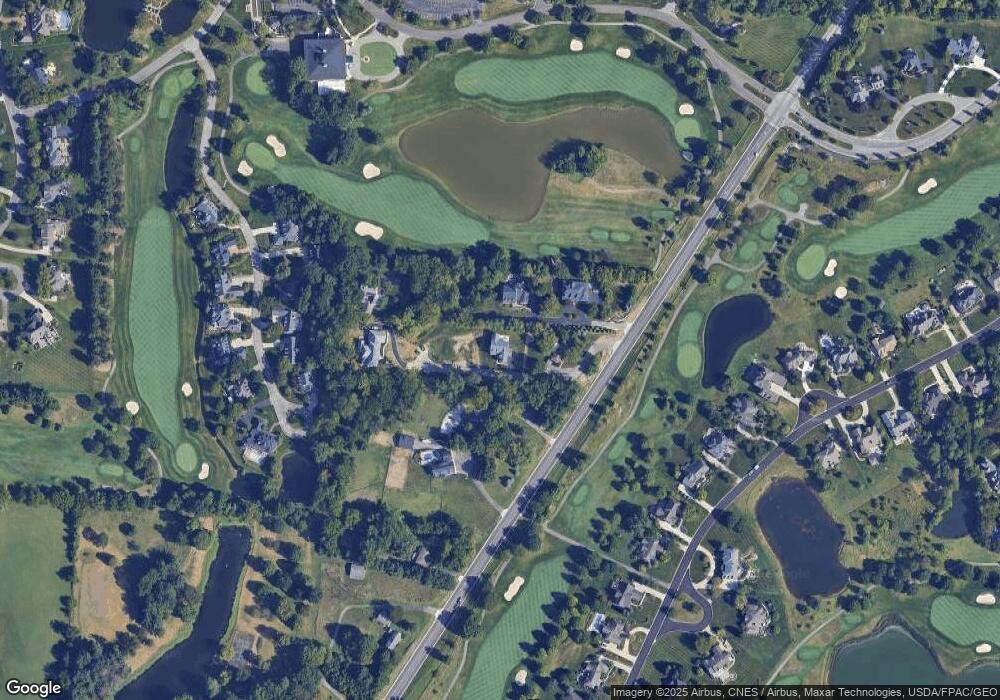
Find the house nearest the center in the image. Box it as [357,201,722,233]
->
[489,333,510,365]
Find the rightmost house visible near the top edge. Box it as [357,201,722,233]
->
[947,28,989,64]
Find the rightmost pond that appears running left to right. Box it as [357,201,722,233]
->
[814,625,1000,700]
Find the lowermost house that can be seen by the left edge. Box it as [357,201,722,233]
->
[26,318,62,350]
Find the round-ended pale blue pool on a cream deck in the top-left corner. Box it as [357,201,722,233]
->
[48,10,71,32]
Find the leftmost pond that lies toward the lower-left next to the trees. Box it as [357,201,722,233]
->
[115,526,249,700]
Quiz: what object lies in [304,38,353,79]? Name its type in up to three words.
building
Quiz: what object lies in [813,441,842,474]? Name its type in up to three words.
house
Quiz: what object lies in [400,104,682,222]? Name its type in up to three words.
pond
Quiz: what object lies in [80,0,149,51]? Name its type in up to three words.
pond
